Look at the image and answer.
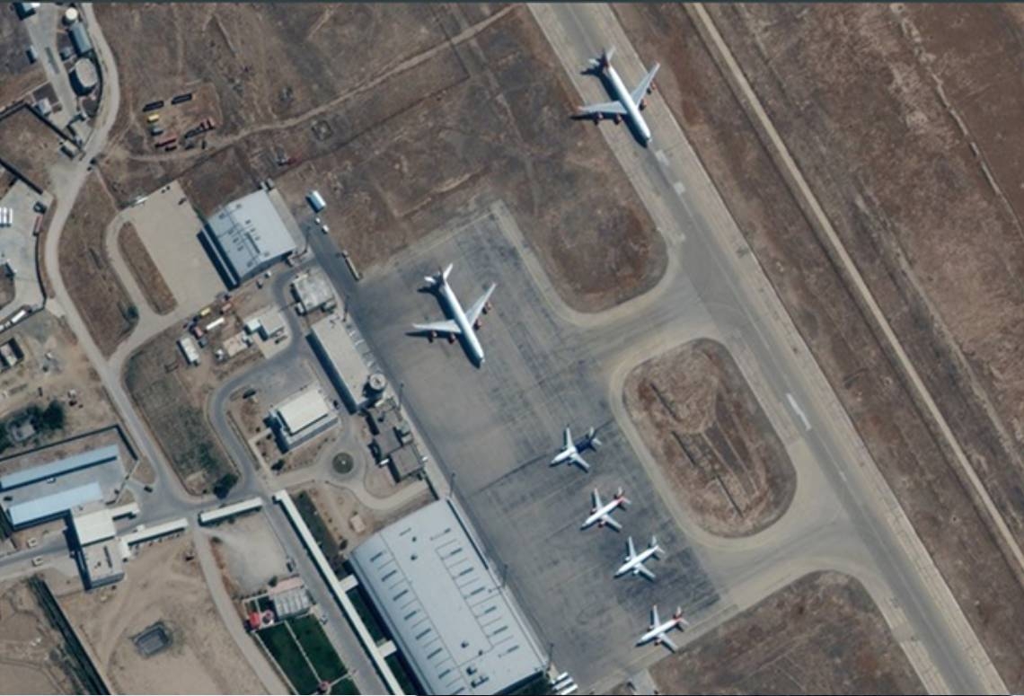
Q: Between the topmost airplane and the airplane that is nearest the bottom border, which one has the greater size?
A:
the topmost airplane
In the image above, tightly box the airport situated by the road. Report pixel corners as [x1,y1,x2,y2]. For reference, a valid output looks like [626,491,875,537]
[284,0,1008,696]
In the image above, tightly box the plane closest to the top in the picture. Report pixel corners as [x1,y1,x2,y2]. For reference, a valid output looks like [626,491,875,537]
[580,49,664,143]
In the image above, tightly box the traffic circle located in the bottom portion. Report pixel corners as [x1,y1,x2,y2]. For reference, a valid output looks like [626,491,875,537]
[322,443,364,482]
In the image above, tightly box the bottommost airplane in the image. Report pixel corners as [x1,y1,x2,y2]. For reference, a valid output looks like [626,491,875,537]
[635,606,688,648]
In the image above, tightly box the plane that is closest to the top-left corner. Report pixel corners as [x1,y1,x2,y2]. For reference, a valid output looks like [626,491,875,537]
[413,268,499,365]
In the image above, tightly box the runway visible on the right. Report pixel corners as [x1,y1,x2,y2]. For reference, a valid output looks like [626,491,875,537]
[527,0,1008,696]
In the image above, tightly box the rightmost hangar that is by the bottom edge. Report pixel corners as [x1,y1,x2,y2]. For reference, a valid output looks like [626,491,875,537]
[351,498,546,696]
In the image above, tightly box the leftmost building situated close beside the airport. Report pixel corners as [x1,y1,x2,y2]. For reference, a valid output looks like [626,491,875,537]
[201,190,303,286]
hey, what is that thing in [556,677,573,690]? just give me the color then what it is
white vehicle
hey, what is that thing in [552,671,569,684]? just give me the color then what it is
white vehicle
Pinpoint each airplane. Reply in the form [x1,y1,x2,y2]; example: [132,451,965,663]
[413,268,499,365]
[613,536,664,577]
[635,606,688,648]
[549,427,600,468]
[580,49,664,143]
[580,488,631,528]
